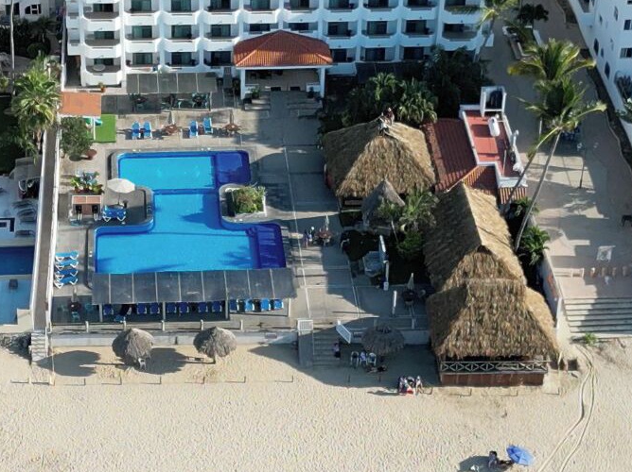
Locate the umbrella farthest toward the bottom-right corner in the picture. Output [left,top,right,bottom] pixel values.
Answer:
[504,446,528,472]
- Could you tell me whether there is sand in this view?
Yes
